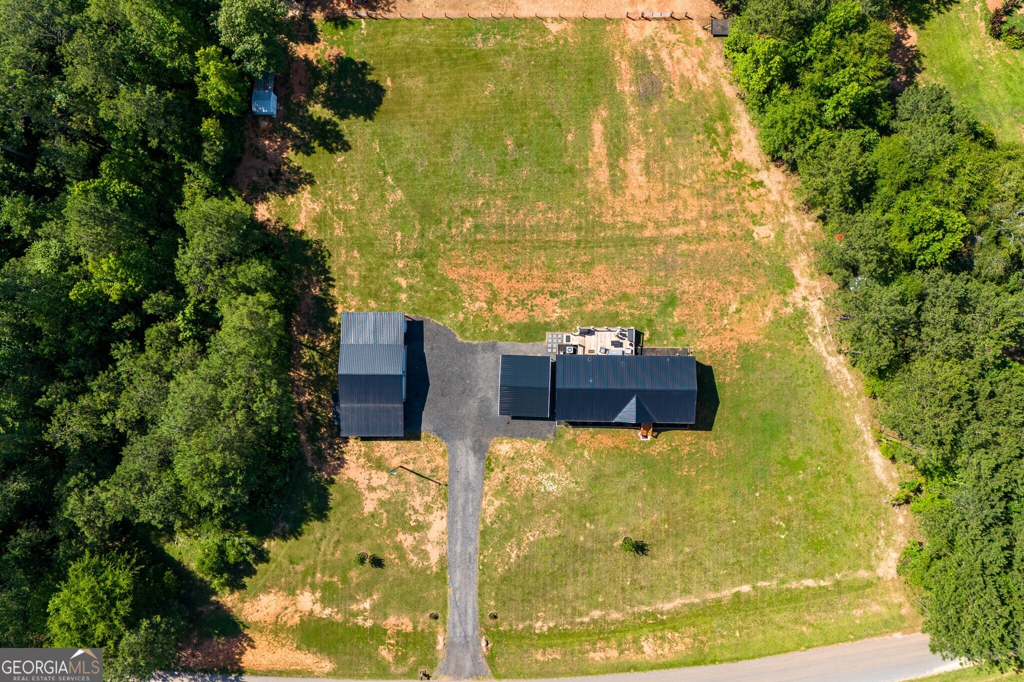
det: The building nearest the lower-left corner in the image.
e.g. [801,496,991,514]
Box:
[338,312,406,436]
